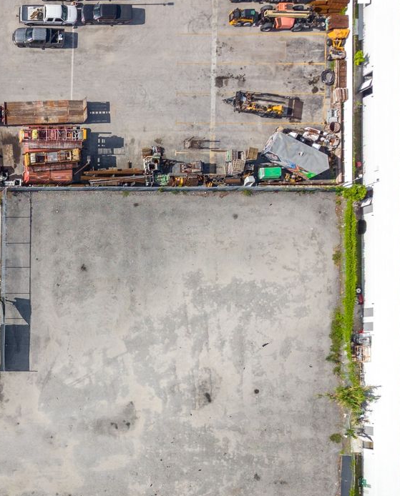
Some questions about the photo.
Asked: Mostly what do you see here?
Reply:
paved ground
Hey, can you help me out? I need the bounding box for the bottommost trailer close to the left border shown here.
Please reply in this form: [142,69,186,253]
[0,97,86,126]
